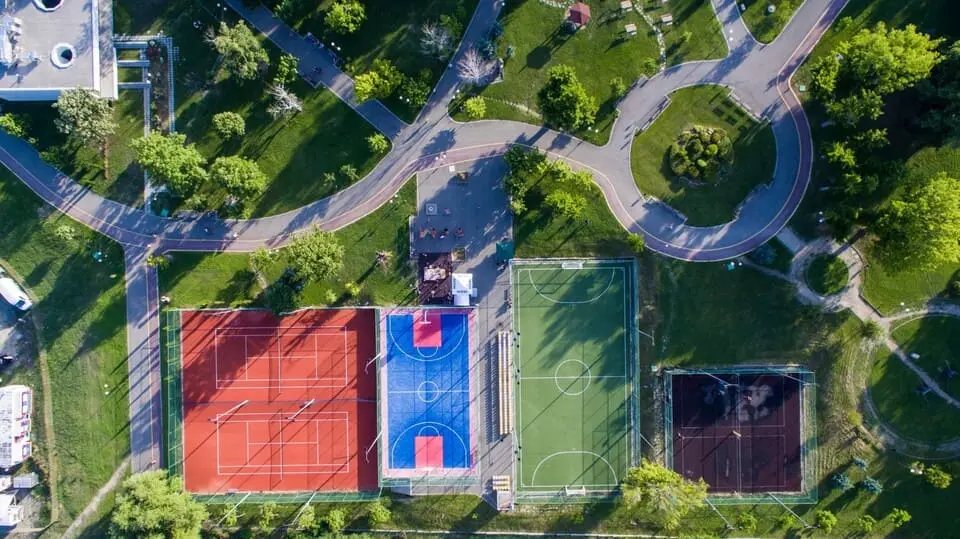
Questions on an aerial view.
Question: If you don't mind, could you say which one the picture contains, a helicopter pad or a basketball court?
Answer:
basketball court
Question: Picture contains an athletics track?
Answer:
No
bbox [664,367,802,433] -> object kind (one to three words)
sports court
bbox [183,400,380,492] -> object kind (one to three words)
tennis court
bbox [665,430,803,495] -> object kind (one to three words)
sports court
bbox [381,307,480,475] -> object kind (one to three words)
basketball court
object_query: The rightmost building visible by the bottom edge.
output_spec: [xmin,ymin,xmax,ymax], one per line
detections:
[497,492,511,515]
